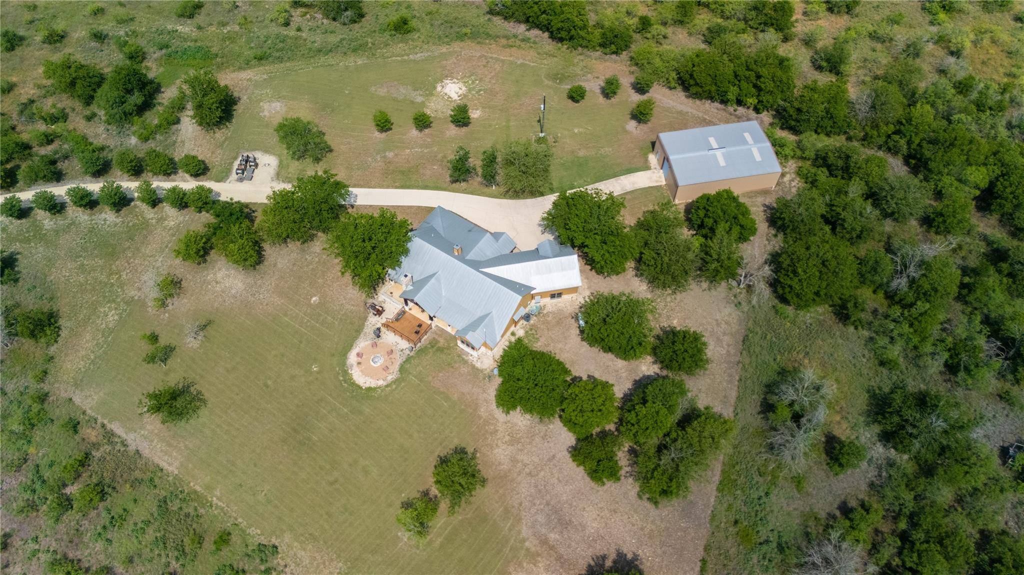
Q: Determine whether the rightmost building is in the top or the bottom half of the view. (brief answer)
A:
top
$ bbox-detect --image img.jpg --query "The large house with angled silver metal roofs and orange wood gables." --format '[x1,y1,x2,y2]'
[385,205,582,357]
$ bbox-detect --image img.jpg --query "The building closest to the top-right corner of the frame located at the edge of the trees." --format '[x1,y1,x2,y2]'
[653,120,784,202]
